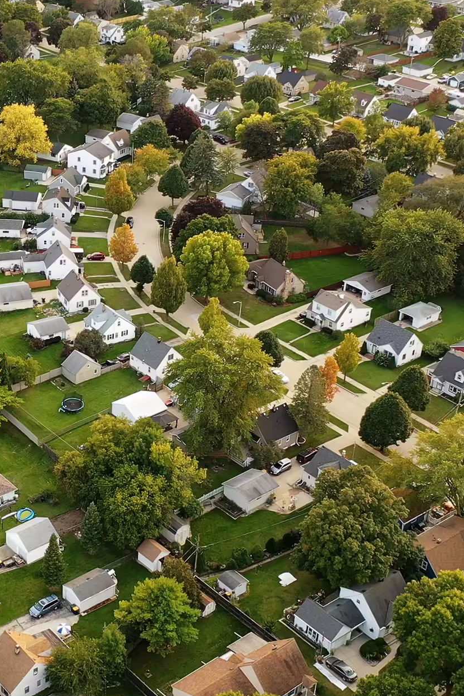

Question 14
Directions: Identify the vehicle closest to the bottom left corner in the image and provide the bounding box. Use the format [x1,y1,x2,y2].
[29,593,64,618]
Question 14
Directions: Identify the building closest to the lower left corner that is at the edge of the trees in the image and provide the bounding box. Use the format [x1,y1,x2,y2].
[0,623,58,696]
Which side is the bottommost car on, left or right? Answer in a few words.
right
